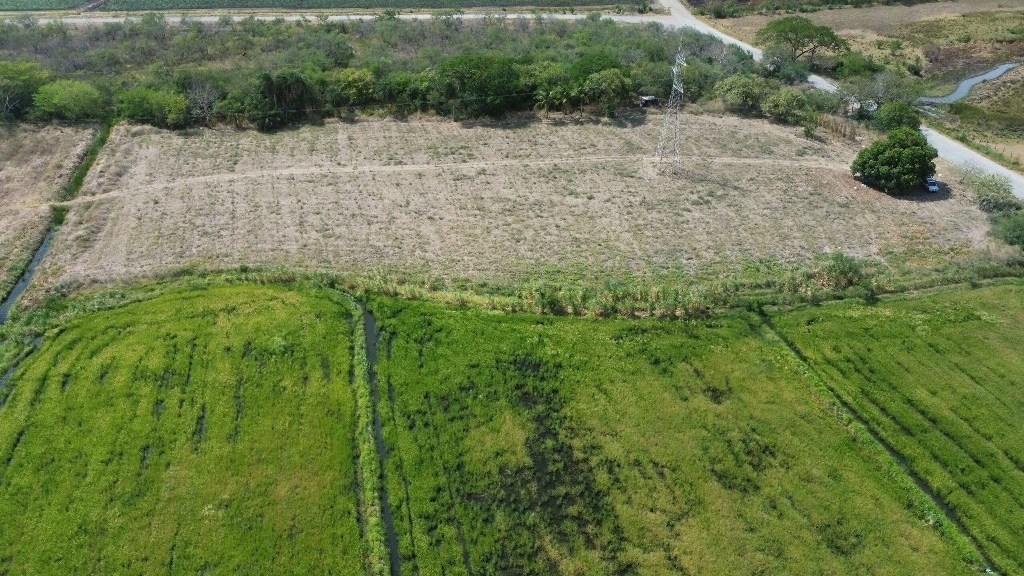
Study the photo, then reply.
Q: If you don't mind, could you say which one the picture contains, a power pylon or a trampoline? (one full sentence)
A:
Of the two, only a power pylon appears.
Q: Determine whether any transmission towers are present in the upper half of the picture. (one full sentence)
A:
Yes, looking in the upper half of the picture, one can make out a transmission tower.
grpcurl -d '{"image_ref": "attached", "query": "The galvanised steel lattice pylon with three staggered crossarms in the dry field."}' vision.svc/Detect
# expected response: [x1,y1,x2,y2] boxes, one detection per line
[654,39,685,174]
